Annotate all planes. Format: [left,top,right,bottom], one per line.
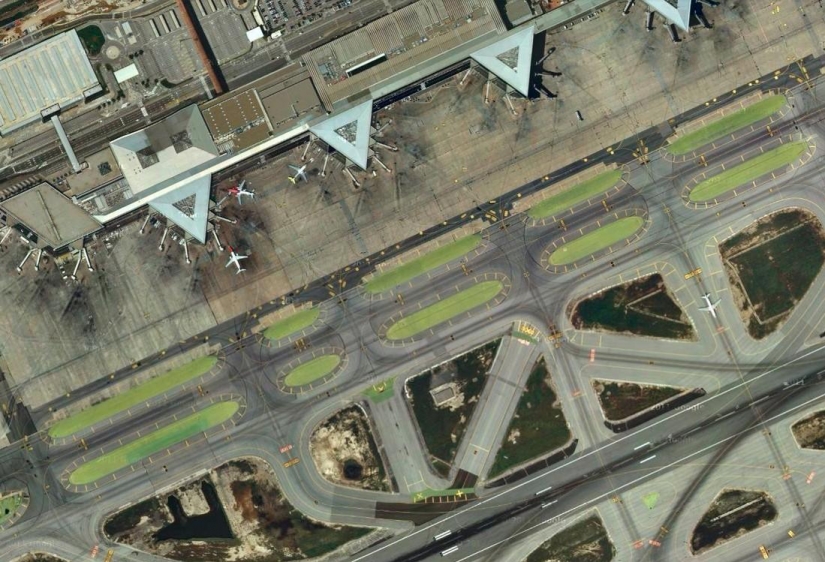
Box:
[287,164,307,185]
[228,180,254,205]
[698,292,721,318]
[225,246,247,273]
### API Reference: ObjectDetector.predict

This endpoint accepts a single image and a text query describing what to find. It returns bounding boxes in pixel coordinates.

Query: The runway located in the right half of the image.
[334,337,825,562]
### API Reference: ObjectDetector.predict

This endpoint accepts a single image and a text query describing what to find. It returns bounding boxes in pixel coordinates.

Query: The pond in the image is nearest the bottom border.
[154,481,234,540]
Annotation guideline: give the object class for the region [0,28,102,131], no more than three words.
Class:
hangar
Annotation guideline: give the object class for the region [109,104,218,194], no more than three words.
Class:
building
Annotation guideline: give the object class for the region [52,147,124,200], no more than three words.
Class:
building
